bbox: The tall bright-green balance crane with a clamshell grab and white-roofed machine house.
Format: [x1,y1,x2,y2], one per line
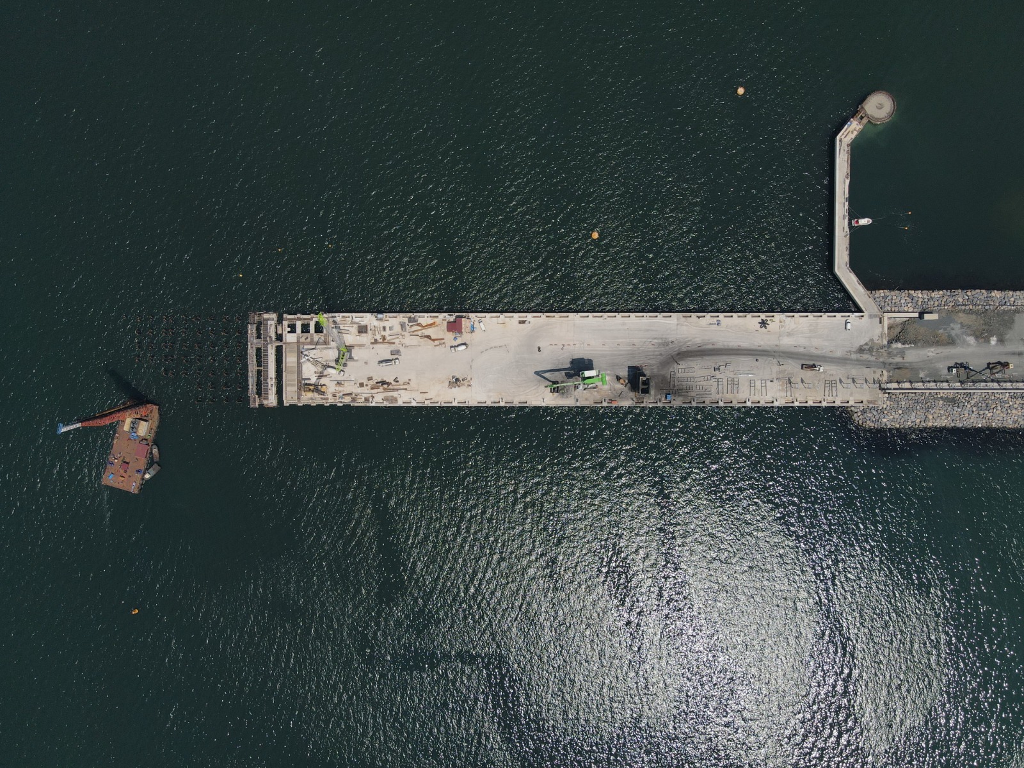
[542,369,607,392]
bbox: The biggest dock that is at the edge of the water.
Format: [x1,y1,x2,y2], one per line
[282,313,883,407]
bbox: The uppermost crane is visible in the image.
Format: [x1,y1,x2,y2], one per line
[320,313,351,372]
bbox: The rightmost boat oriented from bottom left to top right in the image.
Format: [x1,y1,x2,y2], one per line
[145,463,162,480]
